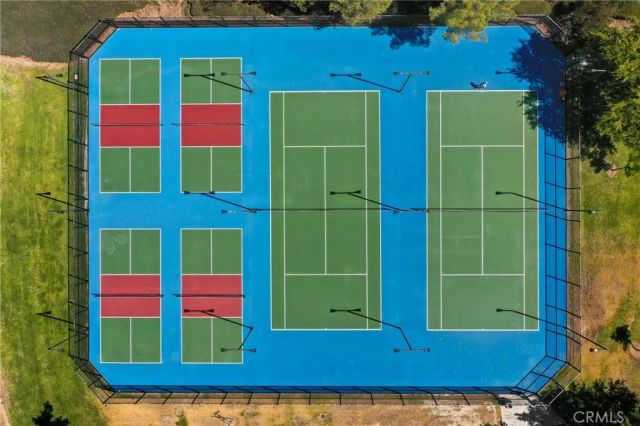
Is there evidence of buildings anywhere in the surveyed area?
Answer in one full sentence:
No, no building is visible in the scene.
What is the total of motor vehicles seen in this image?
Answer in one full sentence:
There are no motor vehicles in this view.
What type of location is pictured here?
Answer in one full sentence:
The area seen from above is a sports ground.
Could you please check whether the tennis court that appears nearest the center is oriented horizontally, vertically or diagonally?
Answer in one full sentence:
In this picture, the tennis court that appears nearest the center is oriented vertically.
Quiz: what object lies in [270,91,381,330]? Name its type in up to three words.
tennis court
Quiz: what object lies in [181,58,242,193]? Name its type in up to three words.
sports court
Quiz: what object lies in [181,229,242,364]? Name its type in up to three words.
sports court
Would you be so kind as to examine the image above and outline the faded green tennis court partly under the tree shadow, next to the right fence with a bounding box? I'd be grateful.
[426,90,539,331]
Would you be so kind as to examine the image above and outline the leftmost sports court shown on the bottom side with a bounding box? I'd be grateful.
[100,229,161,363]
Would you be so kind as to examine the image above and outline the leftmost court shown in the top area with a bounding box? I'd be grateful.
[99,58,161,193]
